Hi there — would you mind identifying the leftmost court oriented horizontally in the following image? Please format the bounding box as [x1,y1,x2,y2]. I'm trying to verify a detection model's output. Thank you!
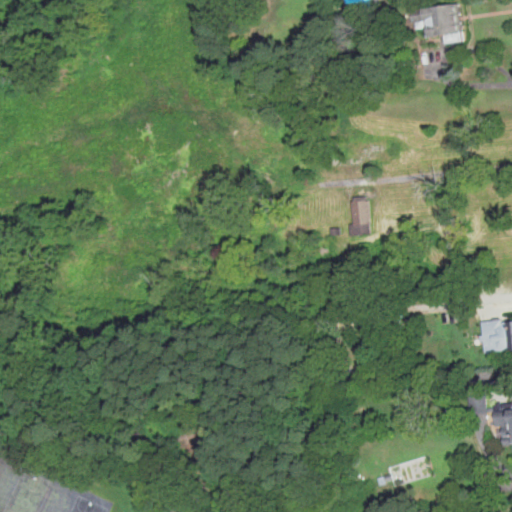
[0,458,112,512]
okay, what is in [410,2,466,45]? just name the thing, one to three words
house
